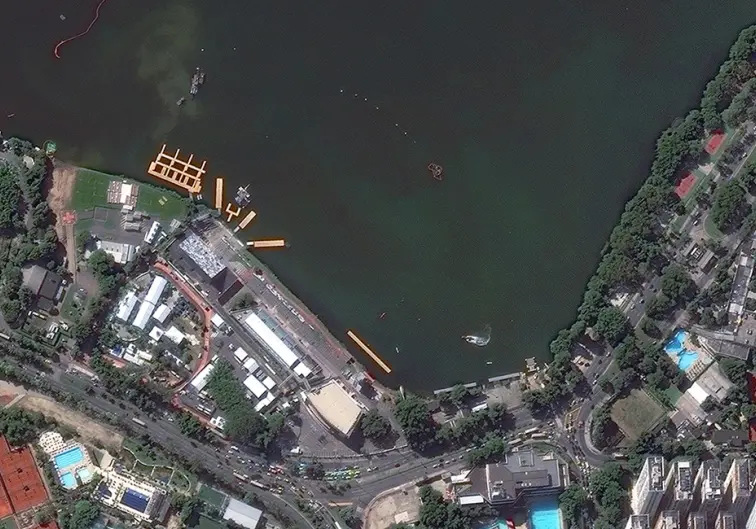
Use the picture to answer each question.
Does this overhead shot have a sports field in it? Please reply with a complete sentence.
Yes, the photo shows a sports field.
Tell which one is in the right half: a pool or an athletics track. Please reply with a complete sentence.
Visible in the right half is a pool.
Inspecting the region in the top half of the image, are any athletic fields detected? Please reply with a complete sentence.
No, no athletic field can be made out in the top half of the image.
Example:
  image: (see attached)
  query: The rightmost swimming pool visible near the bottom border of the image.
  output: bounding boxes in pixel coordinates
[530,492,563,529]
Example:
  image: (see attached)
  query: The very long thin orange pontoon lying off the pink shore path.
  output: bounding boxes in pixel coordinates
[347,331,391,374]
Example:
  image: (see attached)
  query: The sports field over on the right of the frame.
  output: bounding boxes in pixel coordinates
[612,387,667,440]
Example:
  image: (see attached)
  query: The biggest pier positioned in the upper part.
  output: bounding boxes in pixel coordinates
[147,145,207,193]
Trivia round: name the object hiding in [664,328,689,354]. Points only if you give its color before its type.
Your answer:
blue swimming pool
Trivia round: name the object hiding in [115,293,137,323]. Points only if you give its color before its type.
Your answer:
white tent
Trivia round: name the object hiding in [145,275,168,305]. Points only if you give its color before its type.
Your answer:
white tent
